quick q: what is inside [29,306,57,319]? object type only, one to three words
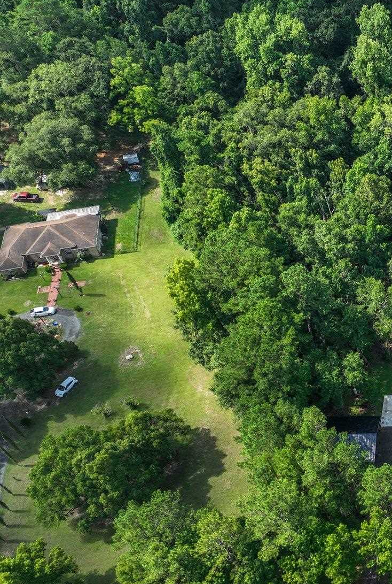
vehicle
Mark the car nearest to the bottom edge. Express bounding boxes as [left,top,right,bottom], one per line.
[52,374,80,398]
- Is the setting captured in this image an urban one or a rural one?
rural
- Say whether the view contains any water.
No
